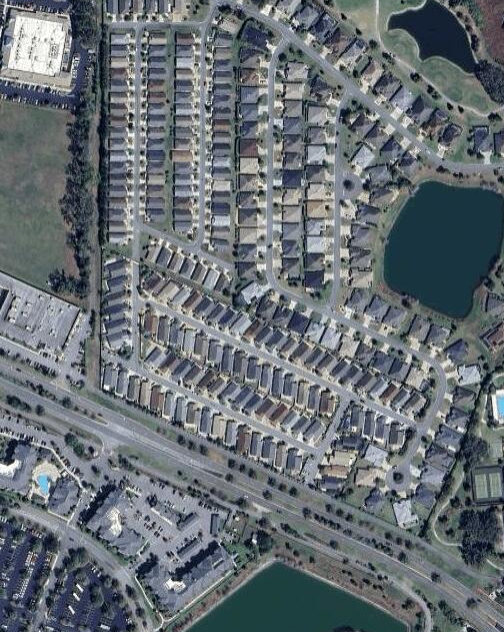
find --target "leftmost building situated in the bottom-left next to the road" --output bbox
[0,442,33,495]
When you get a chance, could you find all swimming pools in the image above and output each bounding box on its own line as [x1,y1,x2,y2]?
[492,389,504,424]
[28,461,60,500]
